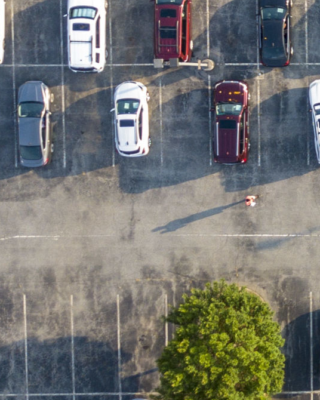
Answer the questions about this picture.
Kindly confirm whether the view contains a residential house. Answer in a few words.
No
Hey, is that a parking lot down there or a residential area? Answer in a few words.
parking lot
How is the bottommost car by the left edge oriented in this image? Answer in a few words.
from top to bottom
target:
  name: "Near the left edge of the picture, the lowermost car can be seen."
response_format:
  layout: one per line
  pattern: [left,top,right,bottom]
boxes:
[11,81,57,167]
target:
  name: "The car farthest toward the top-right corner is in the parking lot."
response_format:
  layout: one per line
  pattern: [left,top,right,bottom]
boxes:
[254,0,295,66]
